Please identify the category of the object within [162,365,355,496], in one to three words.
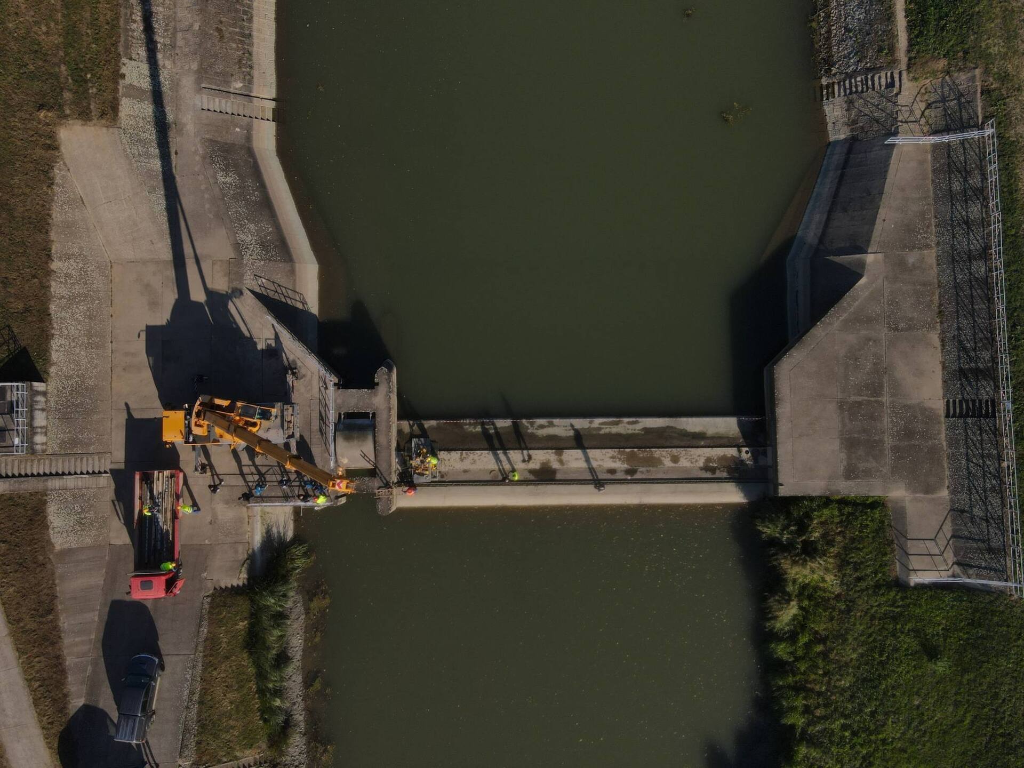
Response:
crane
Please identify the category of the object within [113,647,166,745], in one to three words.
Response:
truck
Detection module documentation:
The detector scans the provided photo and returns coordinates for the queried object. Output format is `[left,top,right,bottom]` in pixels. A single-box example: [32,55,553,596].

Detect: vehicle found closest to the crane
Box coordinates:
[126,469,193,597]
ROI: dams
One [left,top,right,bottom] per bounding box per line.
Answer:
[336,363,765,513]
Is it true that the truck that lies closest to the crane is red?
Yes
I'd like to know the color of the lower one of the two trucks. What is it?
black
